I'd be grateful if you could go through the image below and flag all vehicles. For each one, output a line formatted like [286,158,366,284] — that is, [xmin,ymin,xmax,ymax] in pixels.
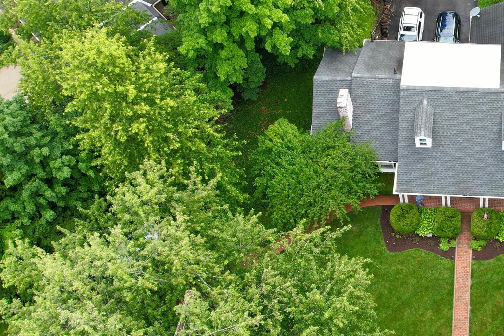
[435,12,461,40]
[396,6,426,41]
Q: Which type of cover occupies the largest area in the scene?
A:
trees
